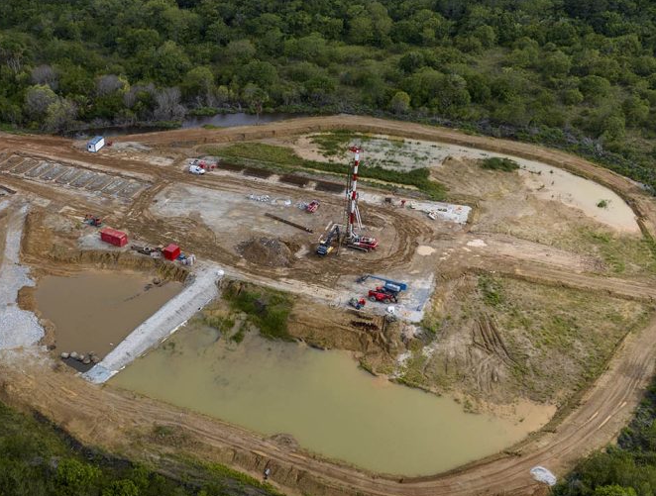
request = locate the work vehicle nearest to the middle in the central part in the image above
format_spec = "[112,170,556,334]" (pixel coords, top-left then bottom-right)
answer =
[314,227,345,258]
